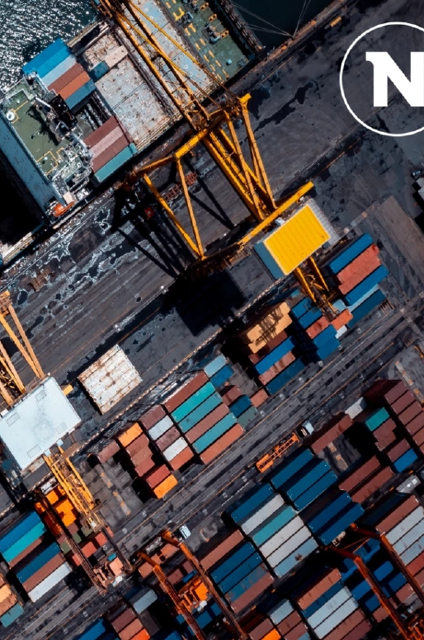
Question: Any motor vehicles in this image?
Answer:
Yes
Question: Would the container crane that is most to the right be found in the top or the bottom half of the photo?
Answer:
bottom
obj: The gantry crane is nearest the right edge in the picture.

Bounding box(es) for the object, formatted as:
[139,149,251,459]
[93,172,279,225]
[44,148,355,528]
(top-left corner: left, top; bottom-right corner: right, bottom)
[325,526,424,640]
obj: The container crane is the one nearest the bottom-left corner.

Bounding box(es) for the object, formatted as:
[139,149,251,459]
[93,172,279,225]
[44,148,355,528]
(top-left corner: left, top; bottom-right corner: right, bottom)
[29,467,134,595]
